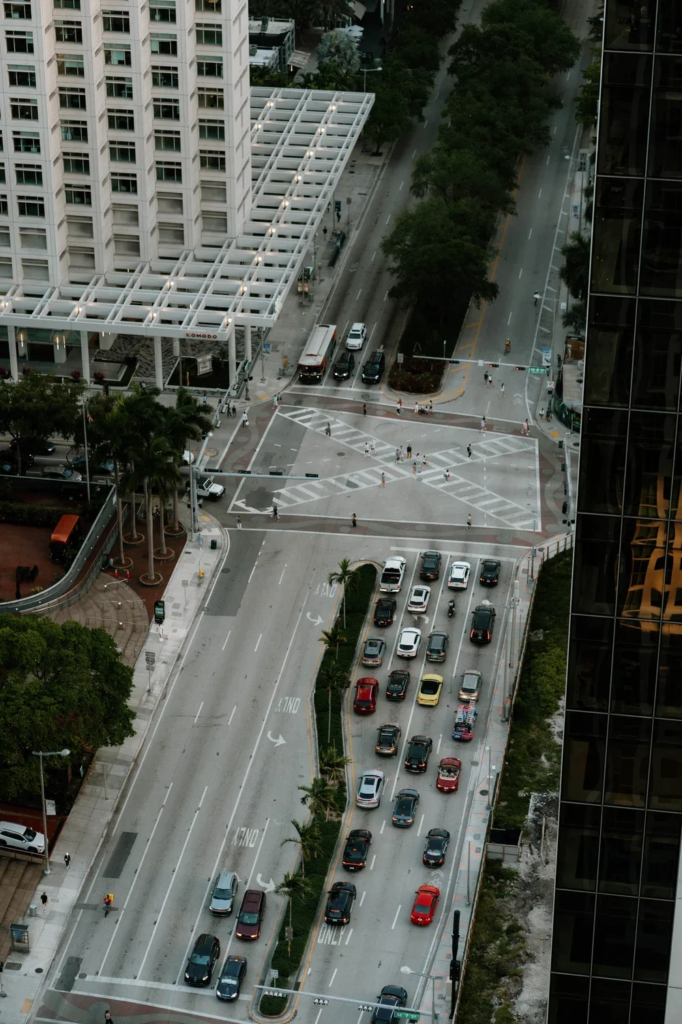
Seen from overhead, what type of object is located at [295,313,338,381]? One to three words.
bus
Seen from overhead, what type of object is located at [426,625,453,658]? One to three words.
car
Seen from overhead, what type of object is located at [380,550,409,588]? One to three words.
truck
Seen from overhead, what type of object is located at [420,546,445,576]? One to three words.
car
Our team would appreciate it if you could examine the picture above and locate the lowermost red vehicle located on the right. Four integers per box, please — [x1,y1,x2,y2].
[410,879,441,922]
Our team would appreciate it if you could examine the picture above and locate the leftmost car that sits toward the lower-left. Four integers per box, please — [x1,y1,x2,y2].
[0,819,47,852]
